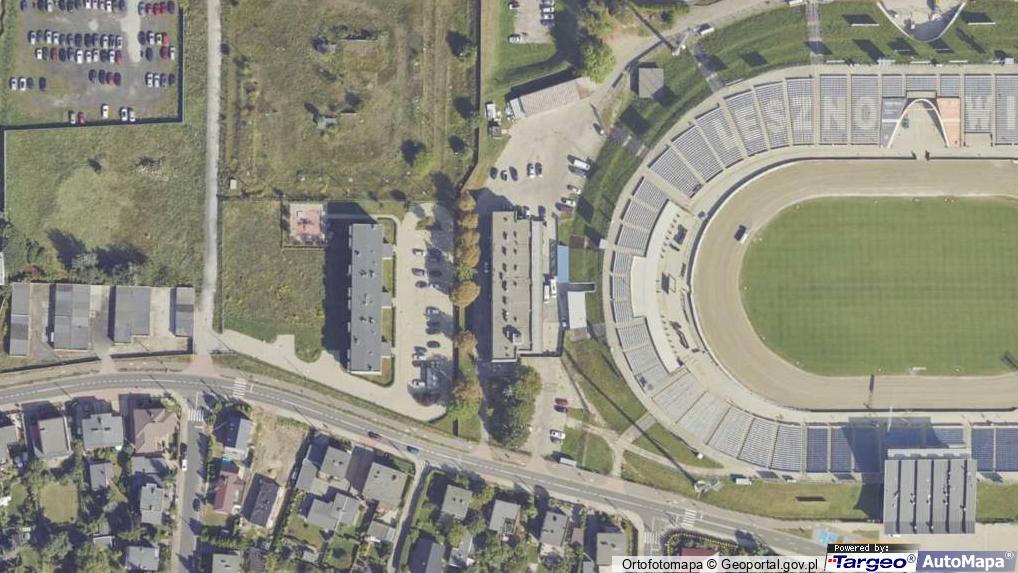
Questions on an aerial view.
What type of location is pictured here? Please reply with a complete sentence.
What you see here is a sports ground.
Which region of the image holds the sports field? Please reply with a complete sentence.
The sports field is located in the right region of the scene.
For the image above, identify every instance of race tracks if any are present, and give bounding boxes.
[693,158,1018,412]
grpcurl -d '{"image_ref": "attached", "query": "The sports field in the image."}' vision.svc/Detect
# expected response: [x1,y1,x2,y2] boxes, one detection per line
[740,196,1018,376]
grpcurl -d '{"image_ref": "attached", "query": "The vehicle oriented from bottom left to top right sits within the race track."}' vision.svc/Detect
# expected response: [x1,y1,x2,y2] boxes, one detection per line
[738,230,751,246]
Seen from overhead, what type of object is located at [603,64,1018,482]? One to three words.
stadium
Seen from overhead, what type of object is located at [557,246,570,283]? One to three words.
building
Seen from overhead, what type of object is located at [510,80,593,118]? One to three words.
shed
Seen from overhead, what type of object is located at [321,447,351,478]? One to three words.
house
